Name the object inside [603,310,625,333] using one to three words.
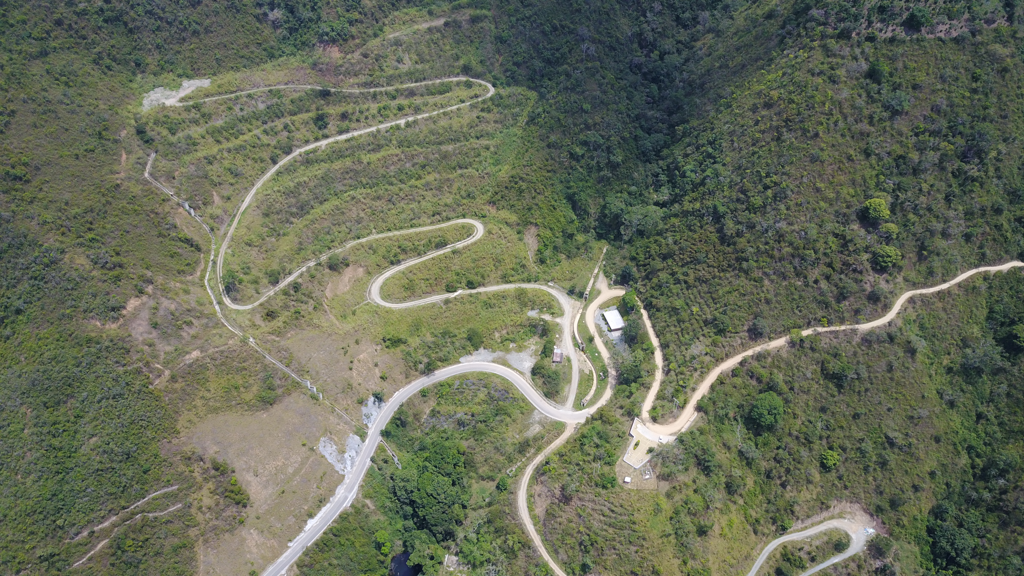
house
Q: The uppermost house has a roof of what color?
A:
white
